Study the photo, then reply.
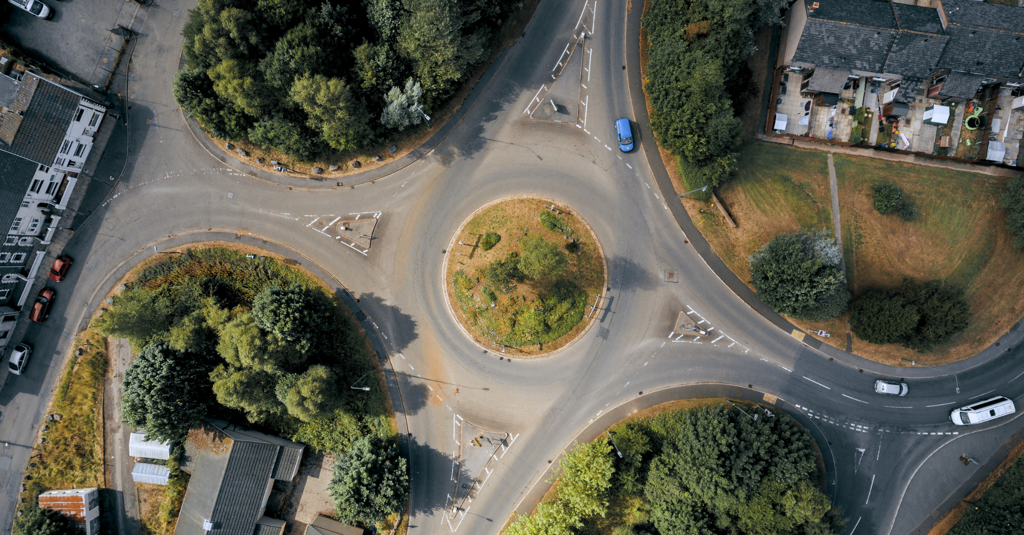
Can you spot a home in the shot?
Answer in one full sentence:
Yes, this view includes a home.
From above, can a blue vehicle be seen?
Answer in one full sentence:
Yes, the frame does contain a blue vehicle.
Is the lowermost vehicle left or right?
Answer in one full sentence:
The lowermost vehicle sits on the right side.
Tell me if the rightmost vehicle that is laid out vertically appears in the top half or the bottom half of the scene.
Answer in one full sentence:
It is in the top half that the rightmost vehicle that is laid out vertically appears.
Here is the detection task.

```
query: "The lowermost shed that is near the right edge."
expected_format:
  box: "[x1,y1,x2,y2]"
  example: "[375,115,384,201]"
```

[977,140,1007,164]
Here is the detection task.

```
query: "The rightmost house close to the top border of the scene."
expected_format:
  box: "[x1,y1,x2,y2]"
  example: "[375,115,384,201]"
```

[979,2,1024,114]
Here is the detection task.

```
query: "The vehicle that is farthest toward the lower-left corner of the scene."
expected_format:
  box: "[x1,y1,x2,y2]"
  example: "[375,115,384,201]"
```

[7,342,34,375]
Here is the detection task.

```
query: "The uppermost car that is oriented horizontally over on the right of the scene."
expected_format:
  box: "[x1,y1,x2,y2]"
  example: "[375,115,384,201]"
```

[873,380,907,397]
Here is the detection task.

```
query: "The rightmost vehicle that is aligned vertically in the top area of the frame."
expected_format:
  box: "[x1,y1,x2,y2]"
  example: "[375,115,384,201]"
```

[618,116,638,152]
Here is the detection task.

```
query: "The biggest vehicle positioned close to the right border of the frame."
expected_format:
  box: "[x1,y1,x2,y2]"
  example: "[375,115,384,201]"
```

[949,399,1018,426]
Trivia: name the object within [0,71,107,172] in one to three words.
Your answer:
house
